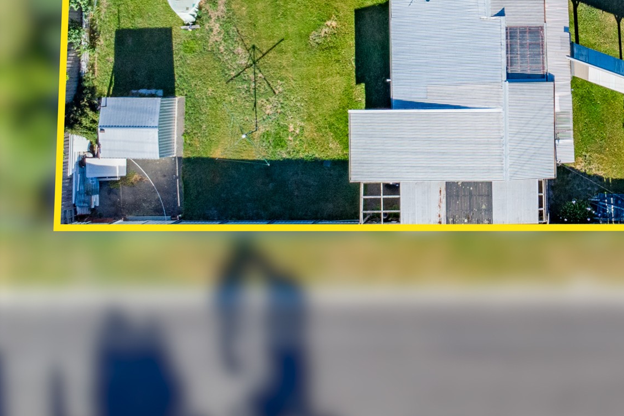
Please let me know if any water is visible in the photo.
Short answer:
No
